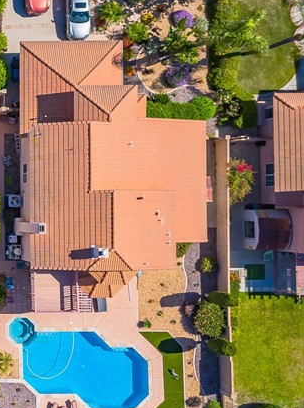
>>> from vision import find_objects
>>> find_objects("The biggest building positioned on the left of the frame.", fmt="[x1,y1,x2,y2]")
[10,39,209,299]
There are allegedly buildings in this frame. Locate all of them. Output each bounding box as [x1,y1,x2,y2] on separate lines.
[10,39,209,299]
[259,92,304,256]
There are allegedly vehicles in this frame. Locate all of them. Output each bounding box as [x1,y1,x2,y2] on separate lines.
[61,0,93,41]
[20,0,48,18]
